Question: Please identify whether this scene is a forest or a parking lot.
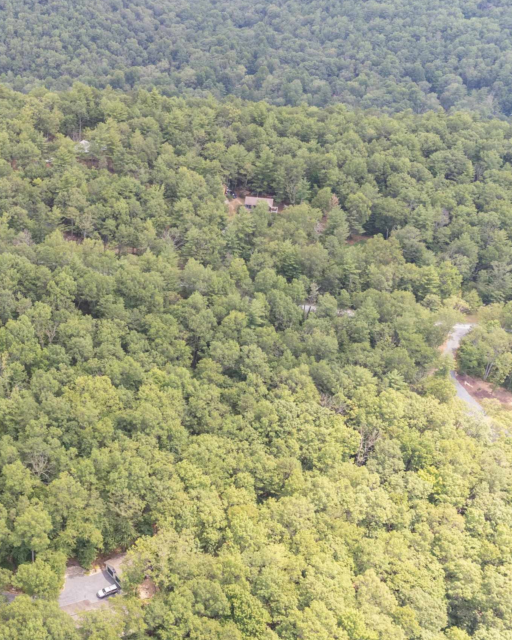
forest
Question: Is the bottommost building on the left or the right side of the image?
left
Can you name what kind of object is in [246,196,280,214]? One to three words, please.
building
